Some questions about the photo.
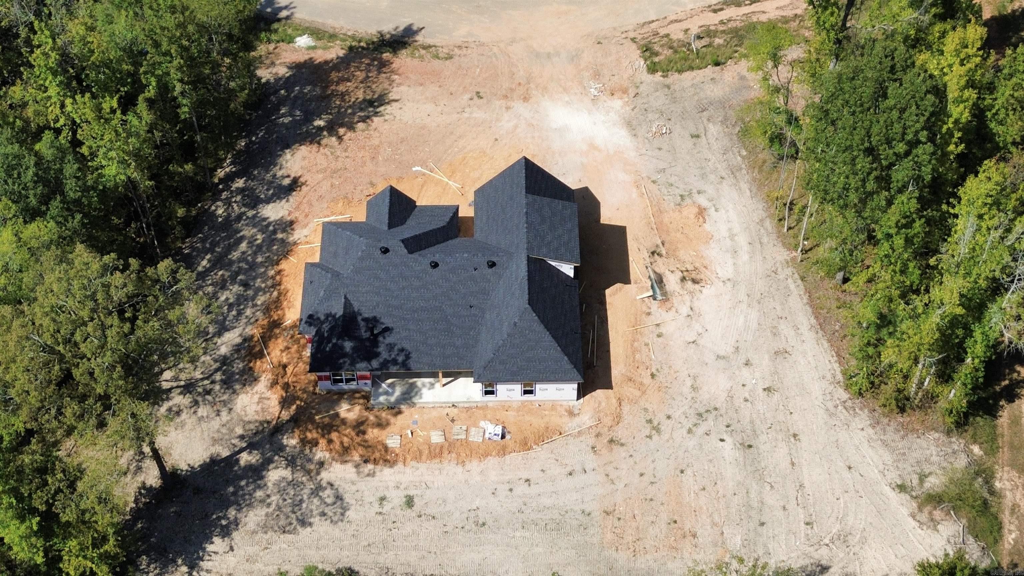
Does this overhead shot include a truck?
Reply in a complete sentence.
No, no truck can be seen from above.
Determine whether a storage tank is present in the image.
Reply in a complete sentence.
No, there appears to be no storage tank in this shot.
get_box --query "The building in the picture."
[297,155,585,406]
